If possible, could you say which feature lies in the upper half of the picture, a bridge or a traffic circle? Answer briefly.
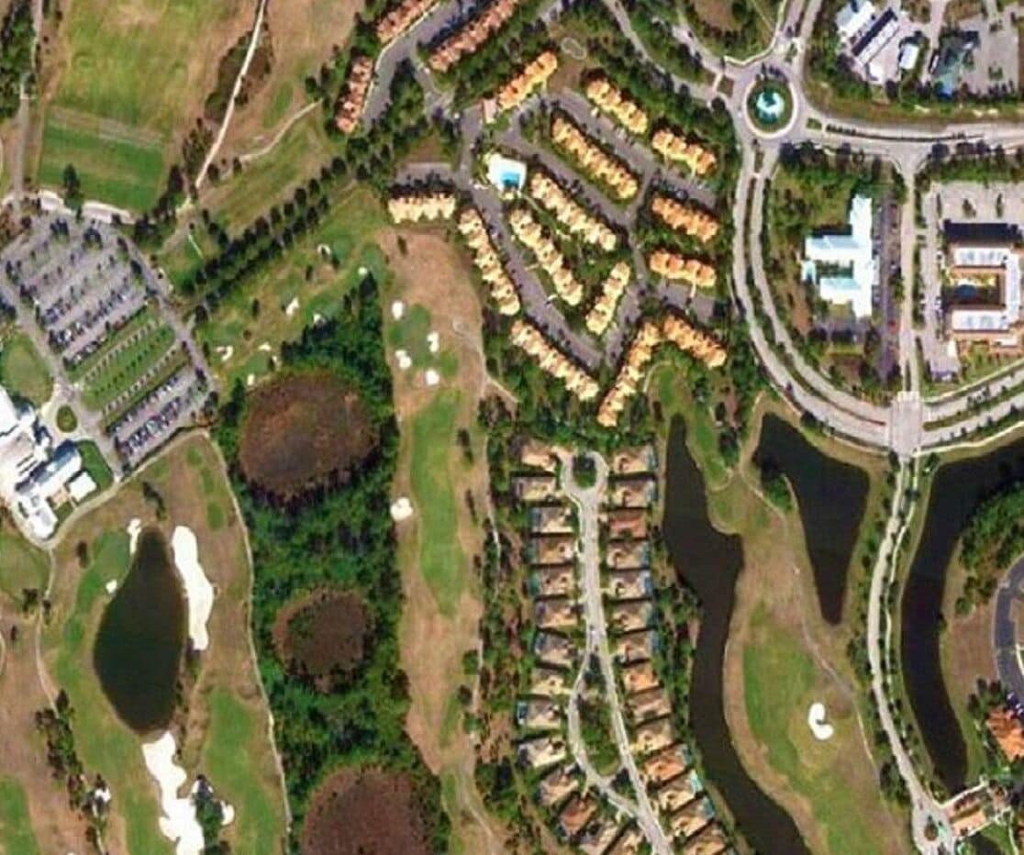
traffic circle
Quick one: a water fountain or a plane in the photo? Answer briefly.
water fountain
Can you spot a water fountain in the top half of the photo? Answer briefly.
Yes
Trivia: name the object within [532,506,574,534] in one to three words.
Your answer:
house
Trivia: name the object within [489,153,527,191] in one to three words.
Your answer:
swimming pool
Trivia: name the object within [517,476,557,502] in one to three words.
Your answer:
house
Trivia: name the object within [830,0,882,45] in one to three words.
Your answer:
building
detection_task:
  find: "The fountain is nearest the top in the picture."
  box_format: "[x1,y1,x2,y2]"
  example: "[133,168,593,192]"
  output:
[757,91,785,120]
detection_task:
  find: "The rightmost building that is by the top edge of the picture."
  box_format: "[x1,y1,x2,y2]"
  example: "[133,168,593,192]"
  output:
[929,30,976,97]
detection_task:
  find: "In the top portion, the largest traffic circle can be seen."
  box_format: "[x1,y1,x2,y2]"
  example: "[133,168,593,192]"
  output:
[718,43,821,147]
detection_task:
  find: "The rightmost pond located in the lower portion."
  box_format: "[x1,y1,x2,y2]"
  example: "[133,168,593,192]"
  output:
[754,411,869,626]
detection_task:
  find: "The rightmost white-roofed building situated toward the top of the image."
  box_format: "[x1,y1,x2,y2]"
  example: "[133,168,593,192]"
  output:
[949,243,1024,348]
